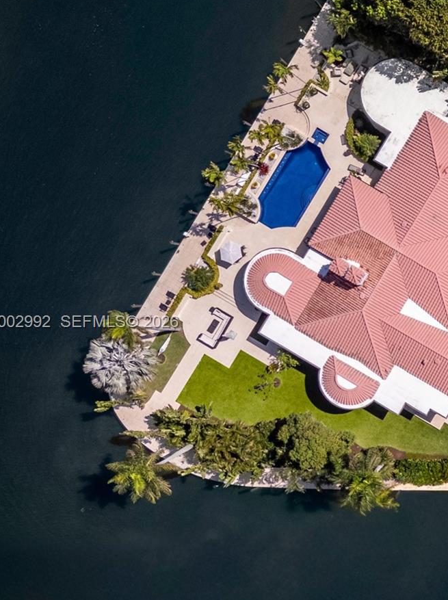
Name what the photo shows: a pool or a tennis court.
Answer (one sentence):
It is a pool that can be seen here.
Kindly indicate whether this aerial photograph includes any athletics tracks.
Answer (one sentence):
No, there isn't any athletics track down there.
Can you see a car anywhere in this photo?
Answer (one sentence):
No, there is no car in the image.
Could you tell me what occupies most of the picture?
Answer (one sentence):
Most of the picture is covered by water.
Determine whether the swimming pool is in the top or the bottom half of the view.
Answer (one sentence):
The top half of the photo is where the swimming pool is.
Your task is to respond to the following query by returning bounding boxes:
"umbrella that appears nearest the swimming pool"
[219,240,245,265]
